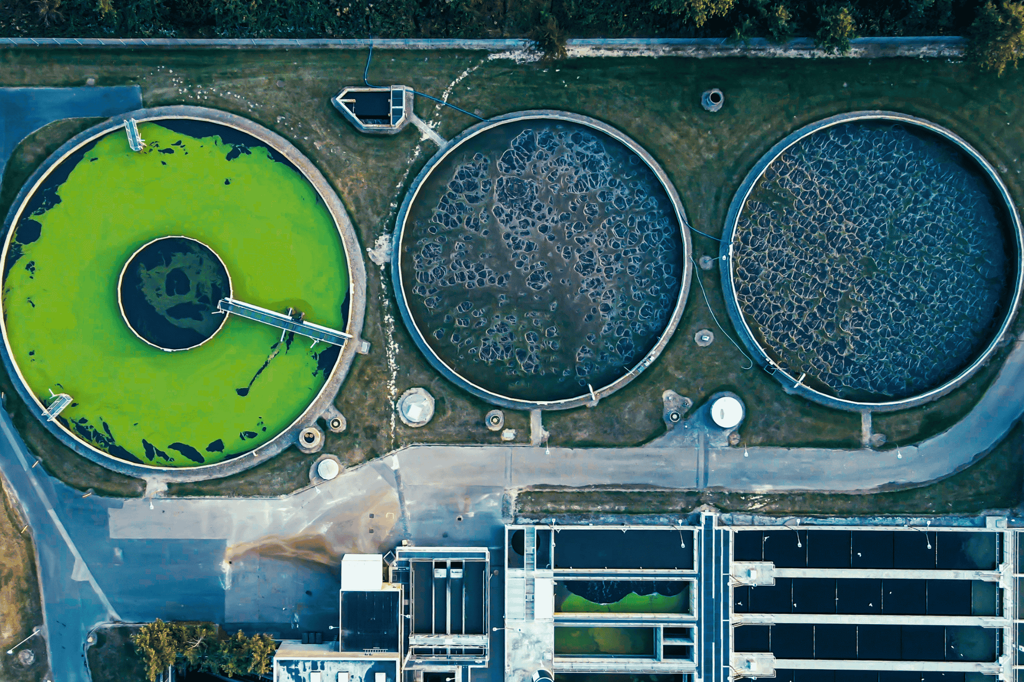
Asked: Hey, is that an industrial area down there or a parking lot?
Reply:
industrial area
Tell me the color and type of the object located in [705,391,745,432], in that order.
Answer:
white storage tank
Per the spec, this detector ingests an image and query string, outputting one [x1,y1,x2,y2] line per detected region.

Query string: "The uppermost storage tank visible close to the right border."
[720,108,1024,412]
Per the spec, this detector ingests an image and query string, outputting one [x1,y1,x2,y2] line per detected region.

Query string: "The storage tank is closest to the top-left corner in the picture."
[0,106,367,479]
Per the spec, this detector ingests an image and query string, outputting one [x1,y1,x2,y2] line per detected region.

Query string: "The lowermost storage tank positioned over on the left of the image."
[309,454,345,485]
